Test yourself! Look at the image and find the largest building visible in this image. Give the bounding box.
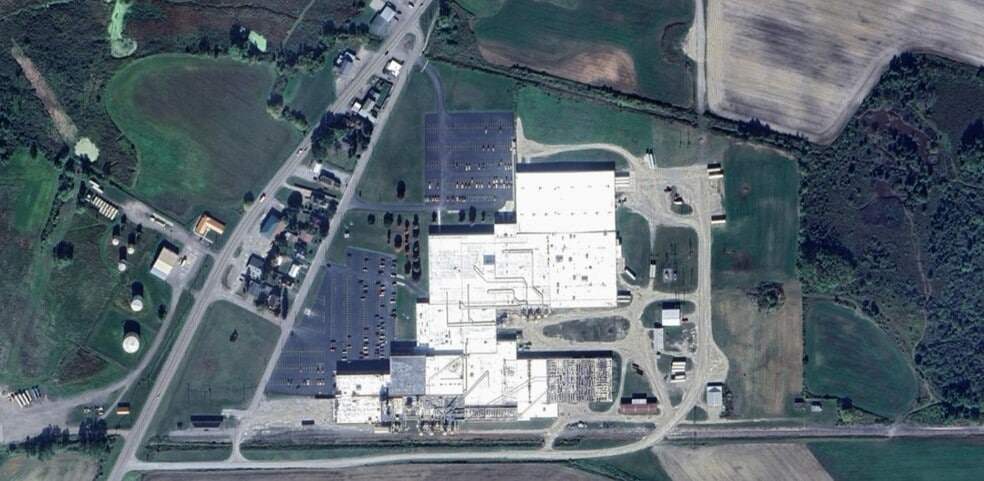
[336,169,621,422]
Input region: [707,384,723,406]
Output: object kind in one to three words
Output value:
barn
